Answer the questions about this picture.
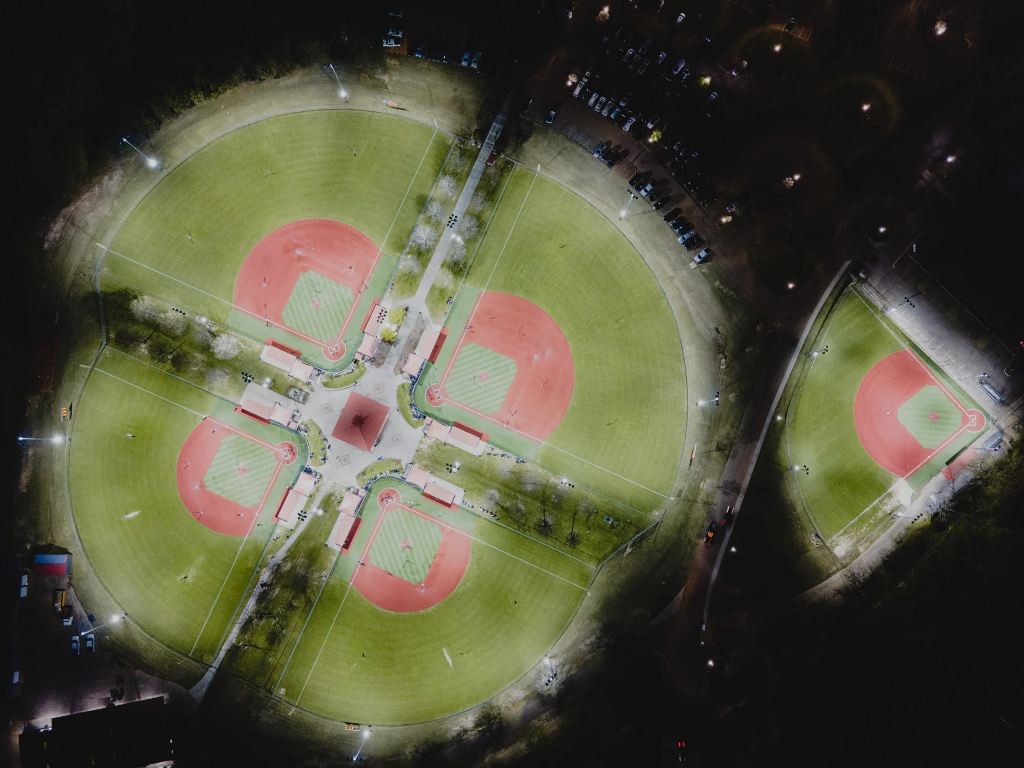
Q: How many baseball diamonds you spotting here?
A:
5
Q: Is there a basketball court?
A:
No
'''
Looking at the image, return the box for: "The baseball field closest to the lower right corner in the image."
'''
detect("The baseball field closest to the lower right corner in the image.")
[786,285,993,560]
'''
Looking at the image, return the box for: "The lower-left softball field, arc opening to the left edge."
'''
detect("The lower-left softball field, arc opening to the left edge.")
[68,346,308,667]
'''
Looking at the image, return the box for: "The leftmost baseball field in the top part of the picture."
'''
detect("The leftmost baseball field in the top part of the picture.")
[99,109,456,373]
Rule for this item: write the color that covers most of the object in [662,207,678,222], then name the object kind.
black vehicle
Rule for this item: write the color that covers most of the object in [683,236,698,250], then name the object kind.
black car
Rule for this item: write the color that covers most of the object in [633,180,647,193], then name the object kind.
black vehicle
